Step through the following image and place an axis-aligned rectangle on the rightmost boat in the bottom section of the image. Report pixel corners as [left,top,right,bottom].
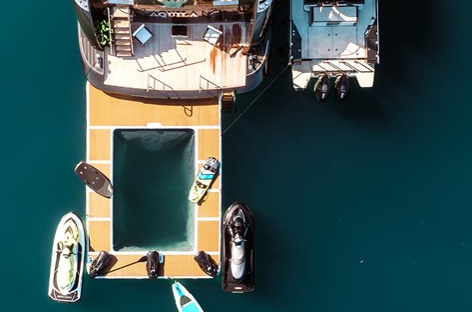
[221,200,255,293]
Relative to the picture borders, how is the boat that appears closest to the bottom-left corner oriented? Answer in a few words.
vertically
